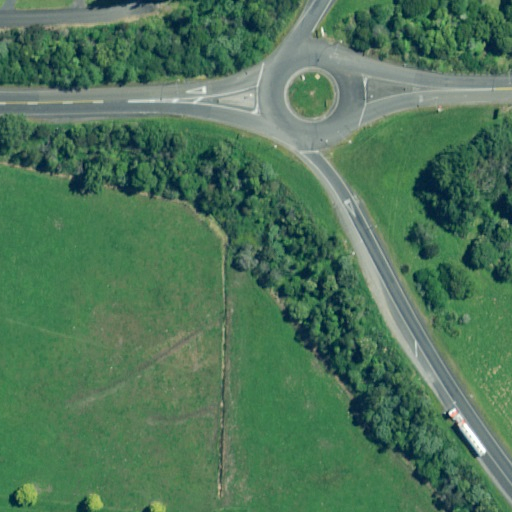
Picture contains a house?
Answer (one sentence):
No, I can see no house in this picture.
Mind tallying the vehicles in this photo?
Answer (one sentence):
The count comes to 1 vehicle.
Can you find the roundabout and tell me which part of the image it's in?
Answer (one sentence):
The roundabout is located in the top region of the scene.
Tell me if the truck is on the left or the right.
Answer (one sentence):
The truck is on the right side of the image.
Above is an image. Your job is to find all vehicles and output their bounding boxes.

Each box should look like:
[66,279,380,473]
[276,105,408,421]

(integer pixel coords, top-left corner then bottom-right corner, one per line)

[448,408,486,456]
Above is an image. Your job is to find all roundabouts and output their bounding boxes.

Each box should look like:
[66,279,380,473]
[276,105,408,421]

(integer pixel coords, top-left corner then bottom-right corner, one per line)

[206,31,412,153]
